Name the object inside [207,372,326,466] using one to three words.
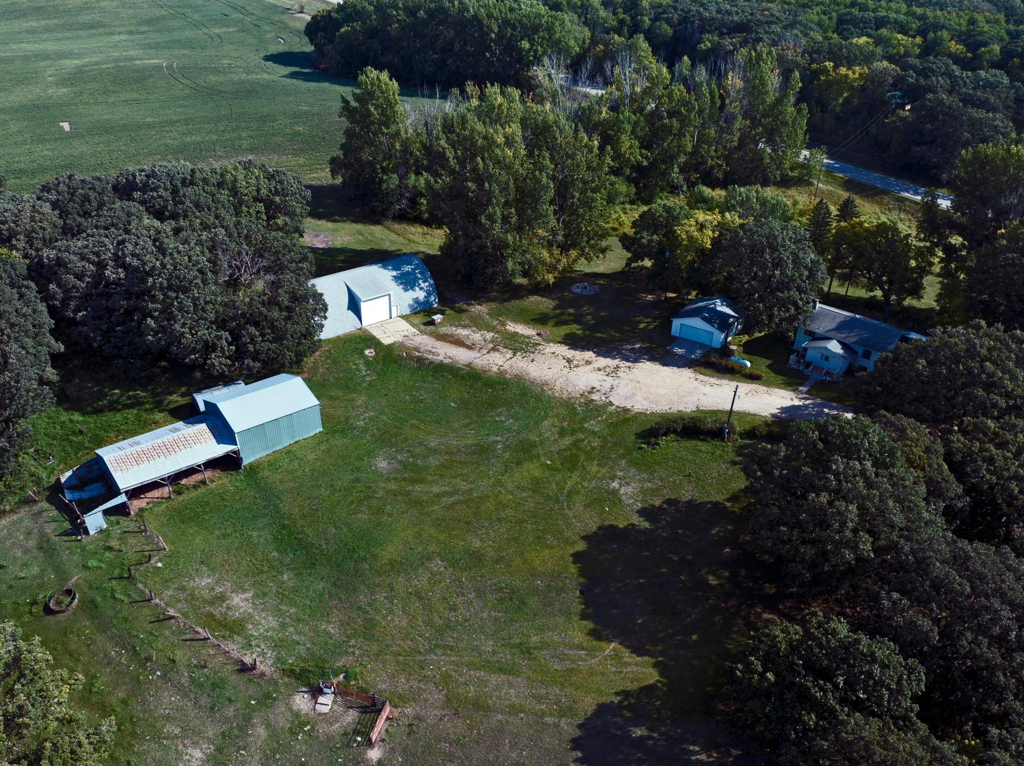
shed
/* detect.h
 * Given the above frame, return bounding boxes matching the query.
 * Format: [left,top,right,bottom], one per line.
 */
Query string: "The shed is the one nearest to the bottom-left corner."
[102,411,241,510]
